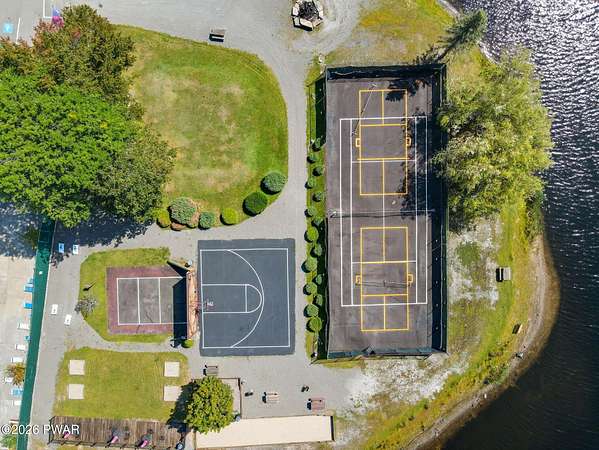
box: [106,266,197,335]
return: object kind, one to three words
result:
sports court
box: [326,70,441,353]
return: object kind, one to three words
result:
tennis court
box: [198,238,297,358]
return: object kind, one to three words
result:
basketball court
